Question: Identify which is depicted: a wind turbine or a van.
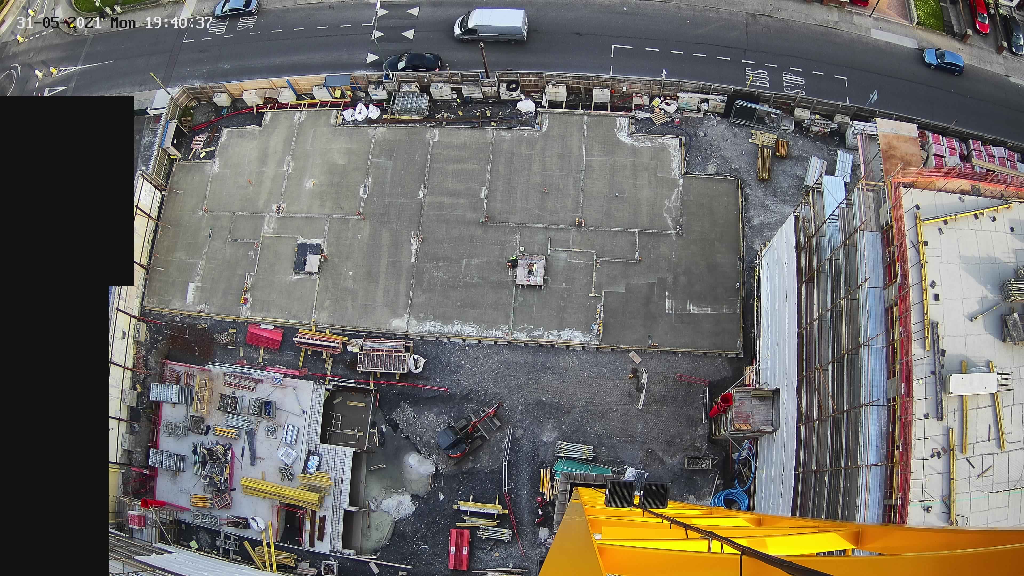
van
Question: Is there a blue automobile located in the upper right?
Yes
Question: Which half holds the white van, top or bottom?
top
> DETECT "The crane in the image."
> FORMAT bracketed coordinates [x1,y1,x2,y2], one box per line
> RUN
[538,491,1024,576]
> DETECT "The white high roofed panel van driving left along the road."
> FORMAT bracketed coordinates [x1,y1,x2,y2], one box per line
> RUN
[455,8,528,45]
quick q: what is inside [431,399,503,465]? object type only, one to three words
work vehicle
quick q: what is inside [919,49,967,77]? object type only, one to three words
car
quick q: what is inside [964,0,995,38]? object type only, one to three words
car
